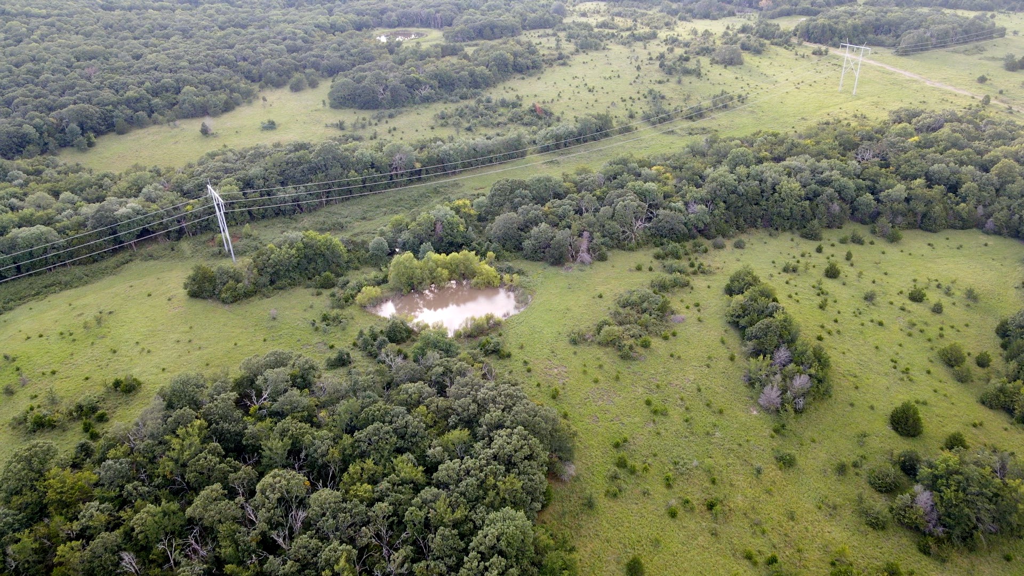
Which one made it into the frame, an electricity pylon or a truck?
electricity pylon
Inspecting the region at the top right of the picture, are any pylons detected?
Yes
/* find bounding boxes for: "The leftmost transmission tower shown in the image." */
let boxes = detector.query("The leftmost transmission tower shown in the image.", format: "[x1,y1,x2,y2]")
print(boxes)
[205,178,236,261]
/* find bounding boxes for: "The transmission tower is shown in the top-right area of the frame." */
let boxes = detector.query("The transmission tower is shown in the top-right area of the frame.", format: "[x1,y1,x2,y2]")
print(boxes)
[839,38,872,94]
